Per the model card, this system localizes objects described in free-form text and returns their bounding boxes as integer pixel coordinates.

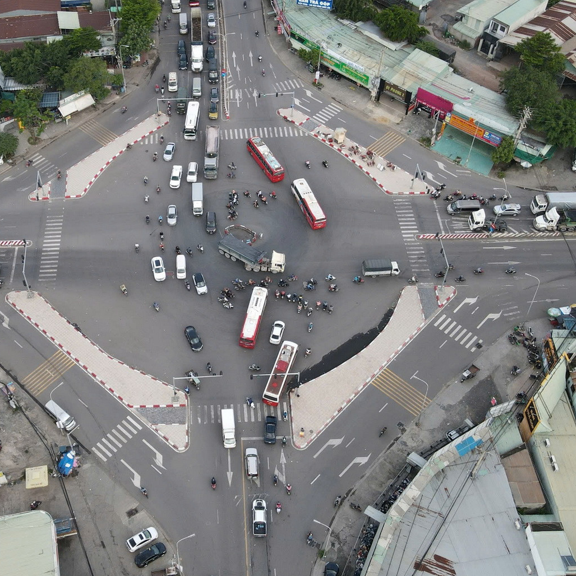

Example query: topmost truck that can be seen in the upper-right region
[429,33,470,59]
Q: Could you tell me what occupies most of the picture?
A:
paved ground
